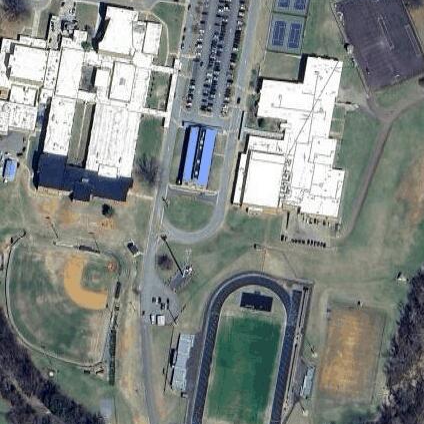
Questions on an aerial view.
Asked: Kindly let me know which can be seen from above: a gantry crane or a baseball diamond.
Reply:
baseball diamond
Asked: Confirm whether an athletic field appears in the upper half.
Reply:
No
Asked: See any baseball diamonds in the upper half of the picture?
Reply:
No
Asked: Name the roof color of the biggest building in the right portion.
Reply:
white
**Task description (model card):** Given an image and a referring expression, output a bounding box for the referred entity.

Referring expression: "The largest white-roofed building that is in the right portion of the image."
[233,57,345,221]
